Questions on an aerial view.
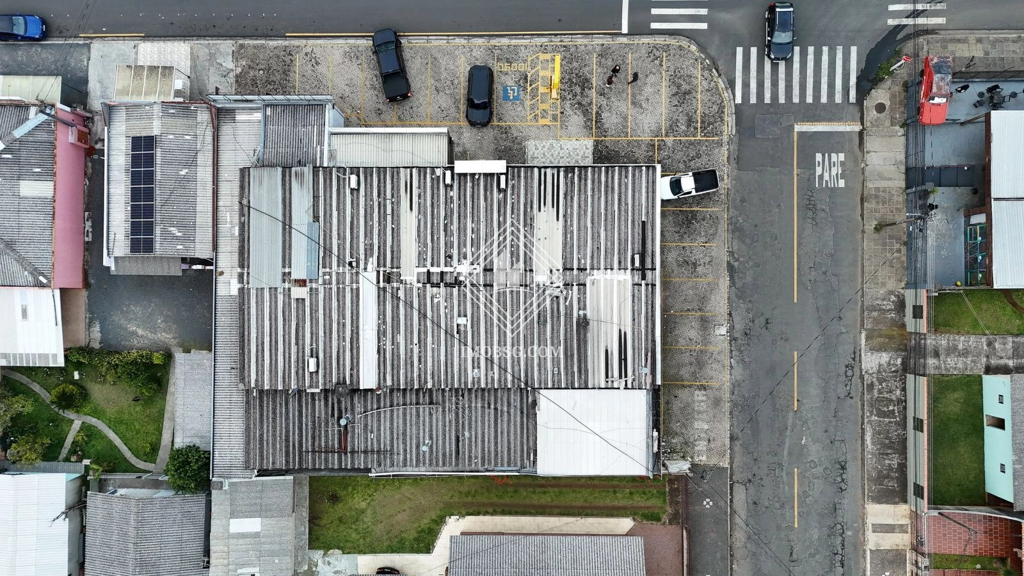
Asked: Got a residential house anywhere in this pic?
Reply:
Yes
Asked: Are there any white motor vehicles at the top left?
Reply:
No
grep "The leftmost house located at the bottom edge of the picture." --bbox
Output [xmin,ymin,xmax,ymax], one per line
[0,459,94,576]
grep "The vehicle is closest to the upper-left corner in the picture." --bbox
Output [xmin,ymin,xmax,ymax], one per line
[0,12,48,42]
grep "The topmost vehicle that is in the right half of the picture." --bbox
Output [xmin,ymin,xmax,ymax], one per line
[764,3,796,62]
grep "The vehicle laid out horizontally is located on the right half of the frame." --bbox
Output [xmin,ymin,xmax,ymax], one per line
[661,169,722,201]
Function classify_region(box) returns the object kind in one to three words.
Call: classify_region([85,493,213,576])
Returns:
house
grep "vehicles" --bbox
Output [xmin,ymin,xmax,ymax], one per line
[661,169,722,201]
[919,58,952,123]
[373,30,410,104]
[465,65,495,128]
[764,3,796,62]
[377,563,401,576]
[0,12,48,42]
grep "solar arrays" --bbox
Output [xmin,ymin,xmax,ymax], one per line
[130,136,154,254]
